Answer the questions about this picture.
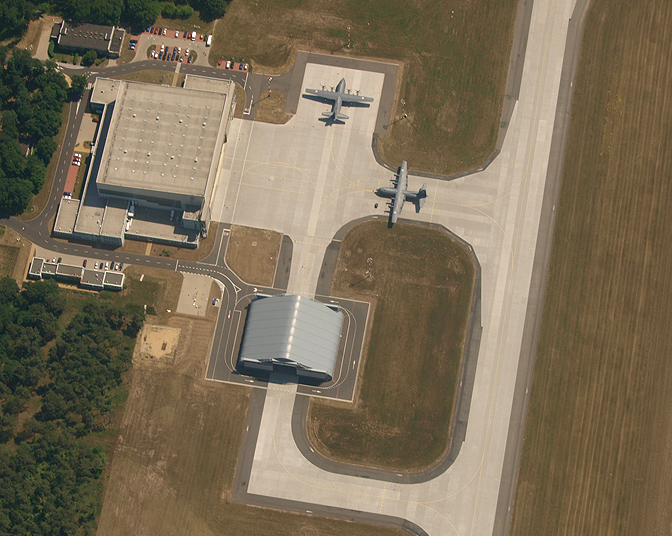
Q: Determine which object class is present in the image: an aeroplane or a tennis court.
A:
aeroplane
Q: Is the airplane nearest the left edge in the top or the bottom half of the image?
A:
top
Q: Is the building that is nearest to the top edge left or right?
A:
left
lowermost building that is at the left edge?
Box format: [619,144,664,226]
[29,257,126,292]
